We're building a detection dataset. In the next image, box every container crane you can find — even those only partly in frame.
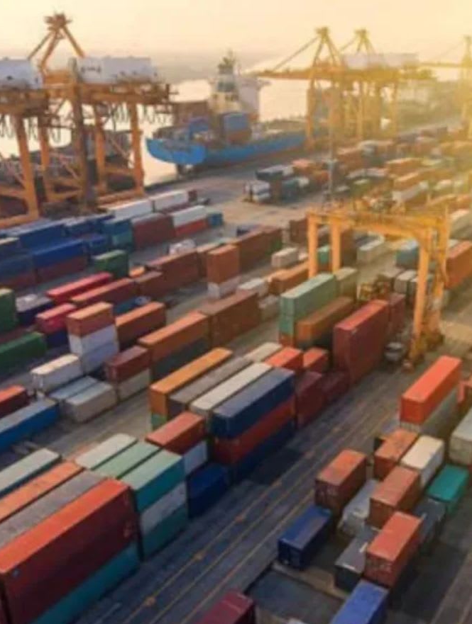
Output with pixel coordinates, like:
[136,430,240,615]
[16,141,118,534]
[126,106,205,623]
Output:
[429,40,472,122]
[14,8,186,216]
[0,54,68,228]
[281,32,440,143]
[306,198,452,366]
[240,30,407,153]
